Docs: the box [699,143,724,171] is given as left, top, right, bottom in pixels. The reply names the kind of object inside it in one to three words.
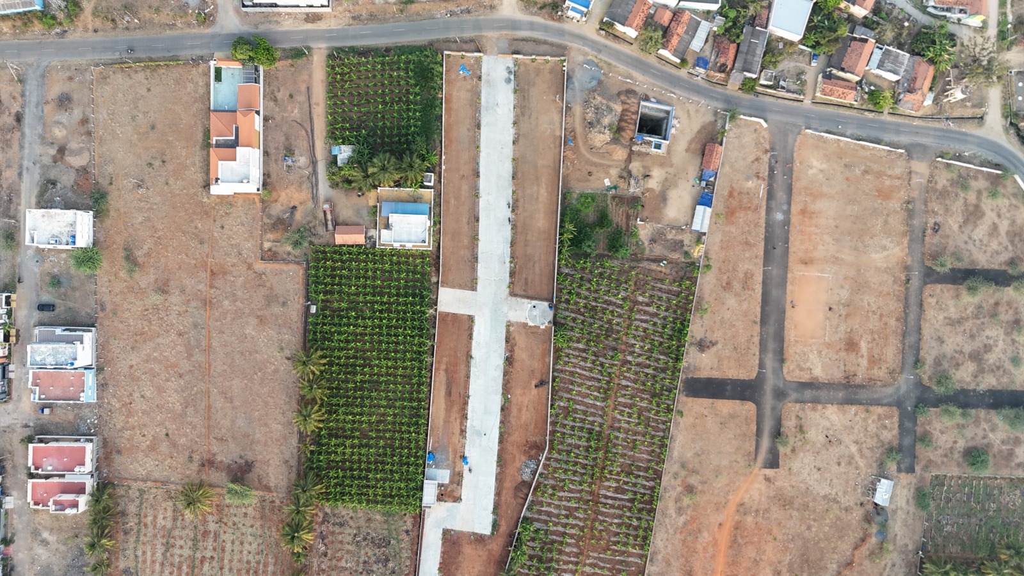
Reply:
shed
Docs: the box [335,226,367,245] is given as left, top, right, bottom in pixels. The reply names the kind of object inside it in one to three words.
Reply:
shed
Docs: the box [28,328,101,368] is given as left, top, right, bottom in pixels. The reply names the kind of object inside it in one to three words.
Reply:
house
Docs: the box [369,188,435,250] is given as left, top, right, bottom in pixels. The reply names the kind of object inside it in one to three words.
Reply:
house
